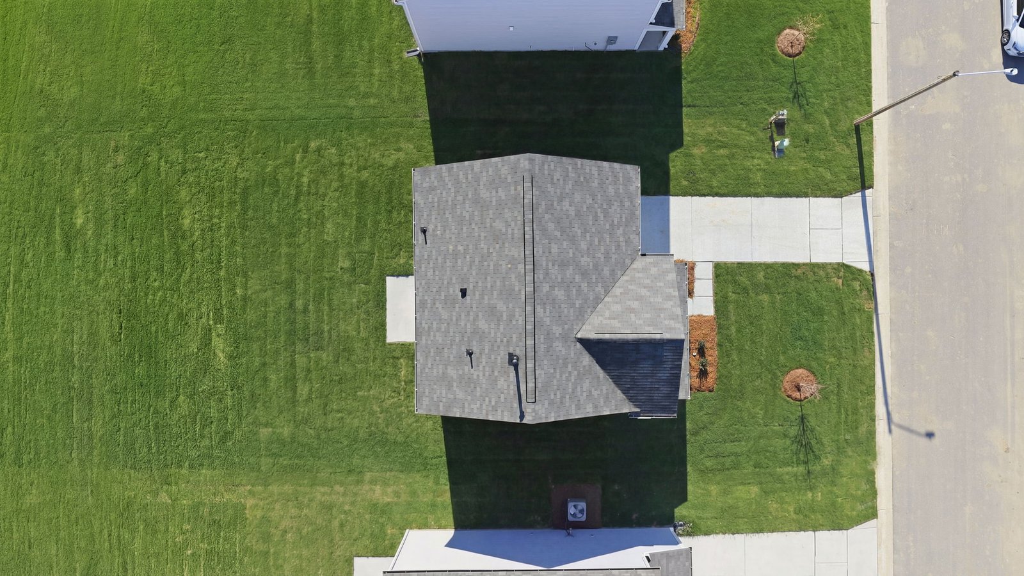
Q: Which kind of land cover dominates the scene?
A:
grass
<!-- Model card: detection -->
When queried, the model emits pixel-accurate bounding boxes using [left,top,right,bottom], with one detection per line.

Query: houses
[411,155,693,424]
[393,0,688,56]
[382,529,693,576]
